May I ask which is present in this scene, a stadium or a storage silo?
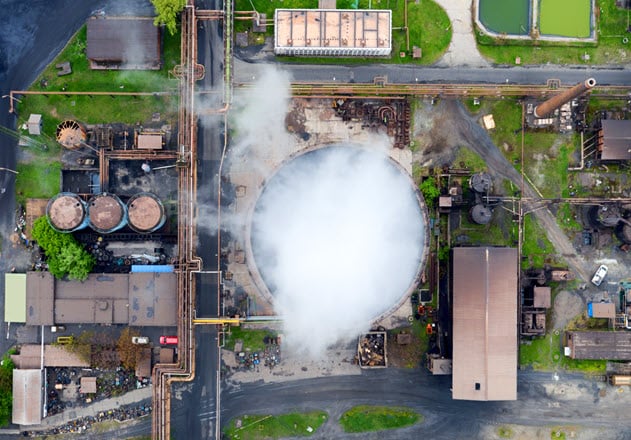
storage silo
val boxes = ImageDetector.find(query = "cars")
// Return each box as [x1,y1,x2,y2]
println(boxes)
[160,335,178,344]
[132,335,150,344]
[589,264,609,286]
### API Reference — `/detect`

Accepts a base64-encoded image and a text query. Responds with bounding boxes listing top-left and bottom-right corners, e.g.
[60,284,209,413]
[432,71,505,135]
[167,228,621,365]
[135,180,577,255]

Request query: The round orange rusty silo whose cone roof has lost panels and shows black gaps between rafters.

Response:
[57,120,100,157]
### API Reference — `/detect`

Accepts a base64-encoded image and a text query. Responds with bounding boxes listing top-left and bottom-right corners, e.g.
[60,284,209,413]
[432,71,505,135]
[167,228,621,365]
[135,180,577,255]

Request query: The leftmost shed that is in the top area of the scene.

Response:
[26,113,46,136]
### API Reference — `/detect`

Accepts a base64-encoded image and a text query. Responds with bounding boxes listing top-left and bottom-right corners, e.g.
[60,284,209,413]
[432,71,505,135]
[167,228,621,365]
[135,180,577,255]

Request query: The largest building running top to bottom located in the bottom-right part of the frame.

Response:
[446,248,520,402]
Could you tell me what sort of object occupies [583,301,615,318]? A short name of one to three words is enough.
building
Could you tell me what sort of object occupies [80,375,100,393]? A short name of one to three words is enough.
shed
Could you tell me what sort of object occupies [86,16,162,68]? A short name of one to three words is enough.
shed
